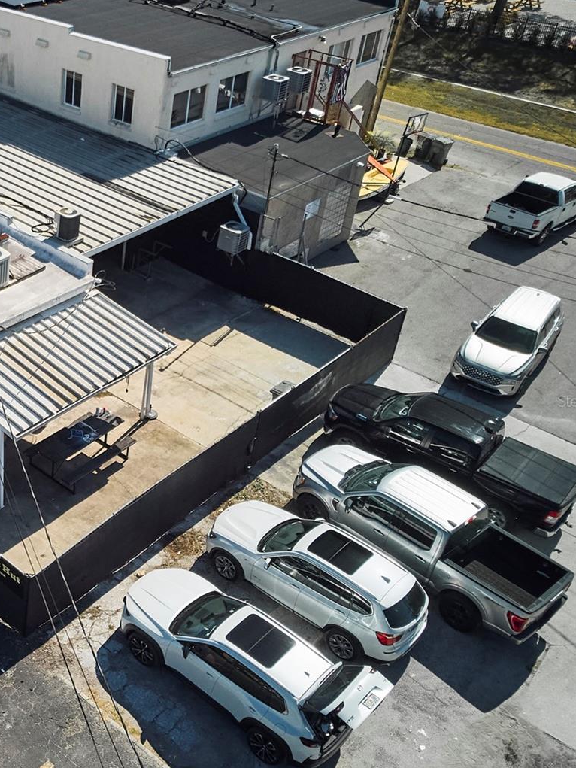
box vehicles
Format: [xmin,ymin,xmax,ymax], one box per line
[454,289,576,398]
[209,497,444,667]
[127,570,403,768]
[320,376,576,537]
[480,167,576,240]
[276,446,576,649]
